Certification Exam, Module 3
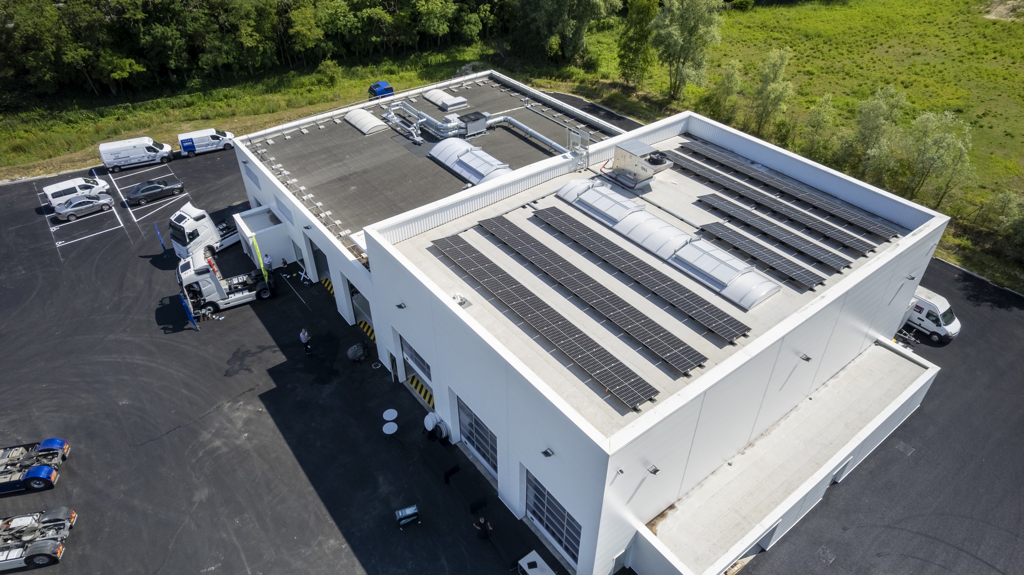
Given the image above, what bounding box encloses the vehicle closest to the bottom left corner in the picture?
[0,506,74,568]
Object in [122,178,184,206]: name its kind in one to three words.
car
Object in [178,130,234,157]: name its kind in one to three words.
vehicle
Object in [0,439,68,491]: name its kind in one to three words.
truck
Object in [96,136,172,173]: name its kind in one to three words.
van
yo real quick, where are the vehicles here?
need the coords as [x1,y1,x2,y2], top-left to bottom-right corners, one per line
[0,506,74,568]
[122,178,184,206]
[53,193,115,221]
[96,136,172,173]
[907,288,965,348]
[177,250,276,316]
[363,81,401,103]
[42,176,111,208]
[178,130,234,157]
[166,205,239,264]
[0,439,68,491]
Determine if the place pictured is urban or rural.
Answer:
urban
